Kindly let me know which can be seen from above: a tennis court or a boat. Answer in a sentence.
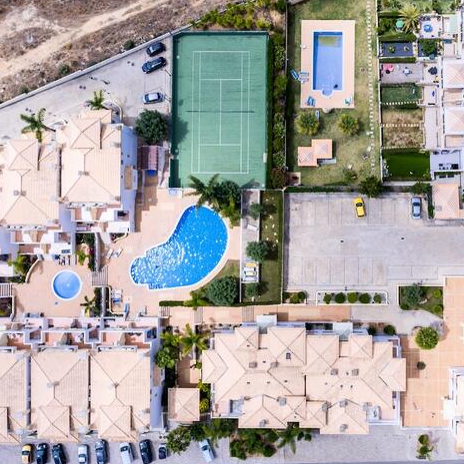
Of the two, only a tennis court appears.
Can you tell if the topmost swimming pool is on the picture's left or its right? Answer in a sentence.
The topmost swimming pool appears in the right half of the scene.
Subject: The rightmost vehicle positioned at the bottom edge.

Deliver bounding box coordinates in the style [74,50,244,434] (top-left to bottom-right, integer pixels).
[200,440,215,463]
